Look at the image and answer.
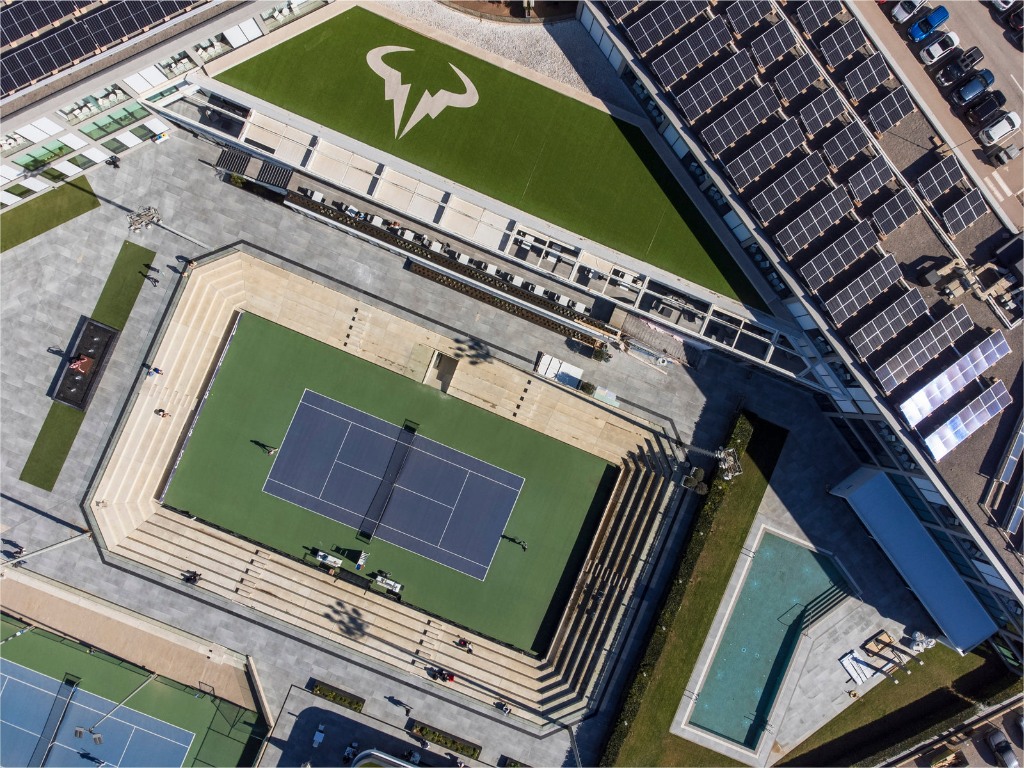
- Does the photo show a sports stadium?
Yes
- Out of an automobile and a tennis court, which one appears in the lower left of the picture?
tennis court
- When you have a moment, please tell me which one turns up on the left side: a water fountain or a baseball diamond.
water fountain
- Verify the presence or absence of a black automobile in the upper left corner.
No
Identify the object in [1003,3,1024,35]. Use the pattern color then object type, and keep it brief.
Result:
black car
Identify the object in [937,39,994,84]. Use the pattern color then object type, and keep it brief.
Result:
black car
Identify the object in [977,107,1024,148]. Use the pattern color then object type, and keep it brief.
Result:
white car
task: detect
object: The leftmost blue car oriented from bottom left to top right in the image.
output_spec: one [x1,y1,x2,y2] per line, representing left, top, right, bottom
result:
[905,0,960,42]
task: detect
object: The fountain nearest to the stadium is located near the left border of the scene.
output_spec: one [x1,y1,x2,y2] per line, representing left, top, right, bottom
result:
[51,315,126,411]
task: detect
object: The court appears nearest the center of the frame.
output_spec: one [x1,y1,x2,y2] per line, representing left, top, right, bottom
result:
[173,316,613,647]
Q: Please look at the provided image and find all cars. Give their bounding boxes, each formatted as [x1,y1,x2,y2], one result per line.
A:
[1013,715,1024,741]
[889,0,937,27]
[937,39,994,84]
[919,26,966,65]
[982,729,1024,768]
[977,107,1024,148]
[963,85,1013,126]
[1003,3,1024,35]
[905,0,960,42]
[951,66,1000,106]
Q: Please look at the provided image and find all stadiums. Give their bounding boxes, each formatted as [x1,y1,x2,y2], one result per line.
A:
[93,250,680,724]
